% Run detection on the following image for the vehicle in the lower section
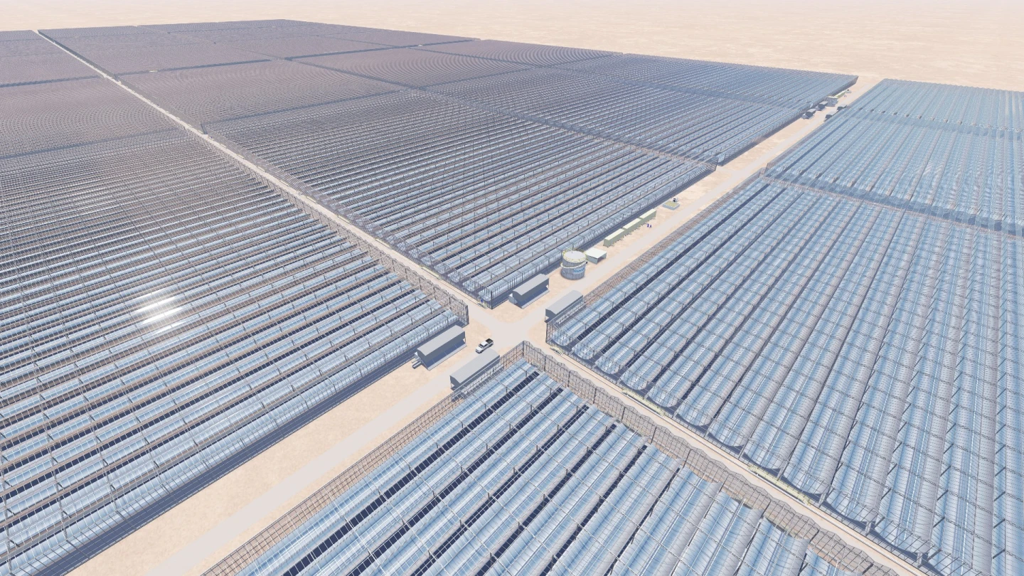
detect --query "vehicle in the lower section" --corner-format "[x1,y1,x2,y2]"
[475,339,494,353]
